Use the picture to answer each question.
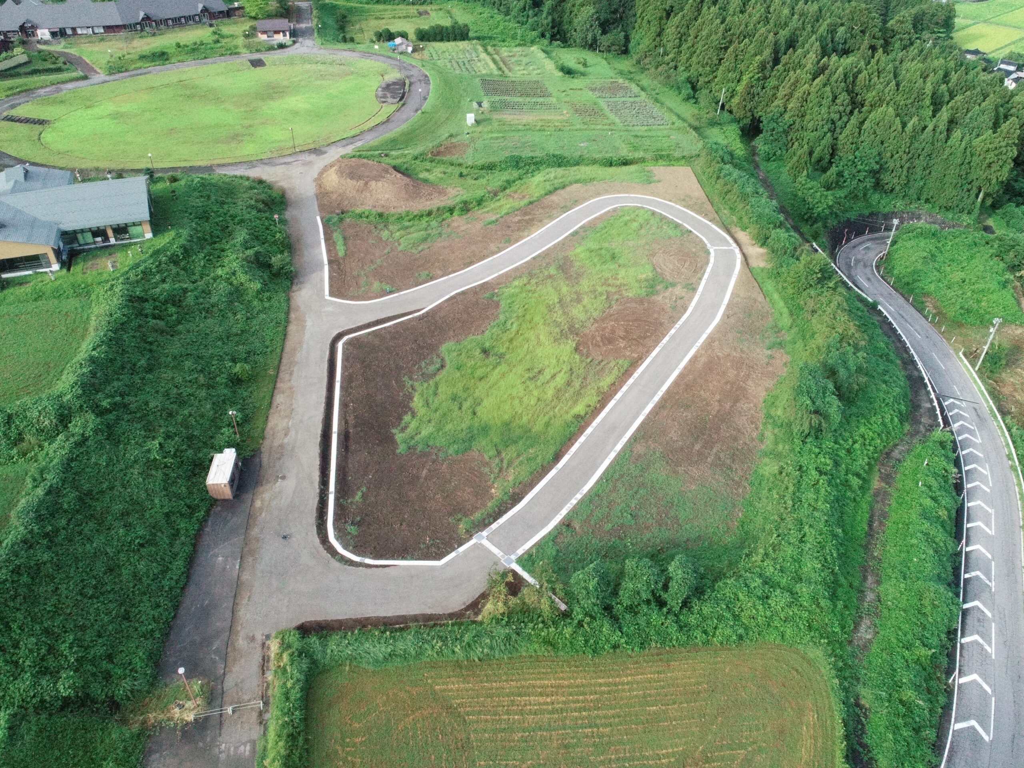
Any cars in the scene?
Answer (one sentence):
No, there's no car here.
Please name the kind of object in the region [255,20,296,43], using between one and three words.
shed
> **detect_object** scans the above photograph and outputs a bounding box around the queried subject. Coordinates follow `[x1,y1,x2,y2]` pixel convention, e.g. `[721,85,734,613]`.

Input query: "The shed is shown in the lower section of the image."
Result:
[205,447,245,499]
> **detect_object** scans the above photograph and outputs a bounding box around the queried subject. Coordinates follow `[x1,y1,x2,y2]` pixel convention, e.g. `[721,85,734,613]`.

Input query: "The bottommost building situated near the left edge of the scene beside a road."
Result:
[0,153,157,275]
